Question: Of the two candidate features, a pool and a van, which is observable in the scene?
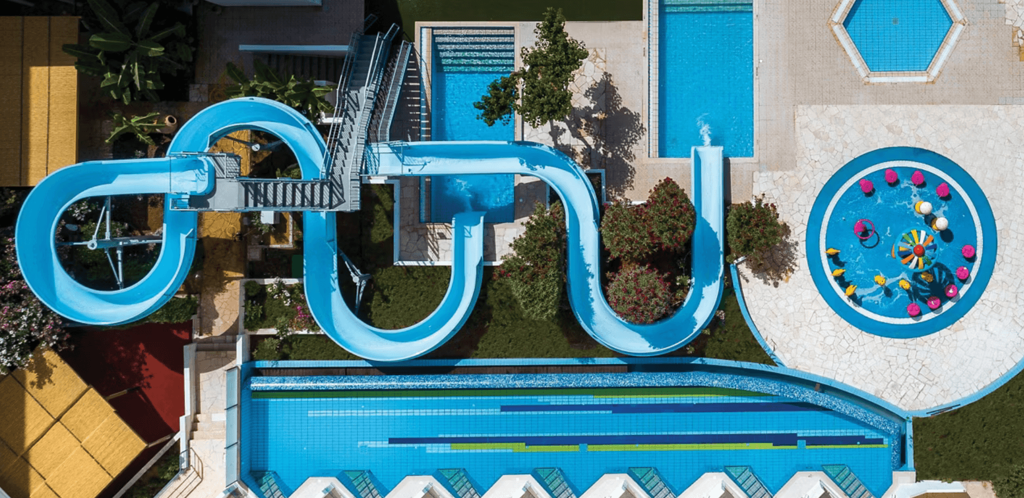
pool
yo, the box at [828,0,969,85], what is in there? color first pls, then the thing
blue swimming pool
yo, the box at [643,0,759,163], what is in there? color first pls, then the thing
blue swimming pool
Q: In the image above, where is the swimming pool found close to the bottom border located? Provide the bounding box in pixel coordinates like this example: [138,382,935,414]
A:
[239,358,913,498]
